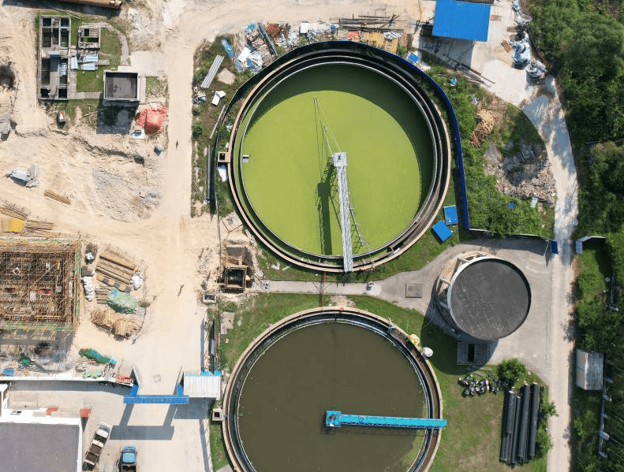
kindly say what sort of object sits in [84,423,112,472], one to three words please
truck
